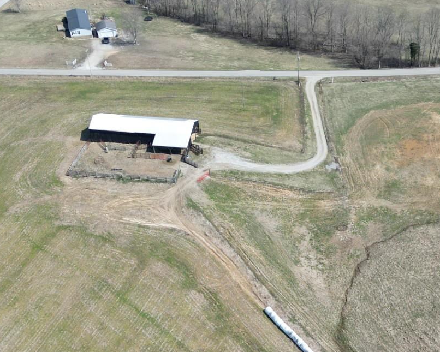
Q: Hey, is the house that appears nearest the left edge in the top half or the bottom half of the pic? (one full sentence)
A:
You can find the house that appears nearest the left edge in the top half.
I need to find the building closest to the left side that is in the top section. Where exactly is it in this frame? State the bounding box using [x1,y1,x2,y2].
[65,6,93,41]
